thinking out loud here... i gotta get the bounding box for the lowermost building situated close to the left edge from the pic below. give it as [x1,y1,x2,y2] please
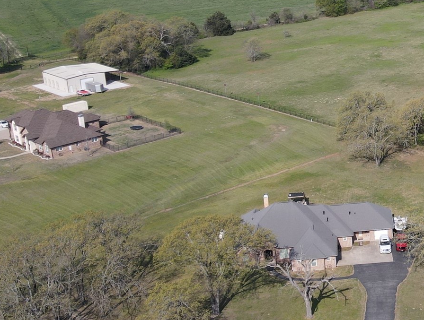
[9,107,105,158]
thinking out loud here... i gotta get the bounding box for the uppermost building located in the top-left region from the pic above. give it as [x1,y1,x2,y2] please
[42,63,120,93]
